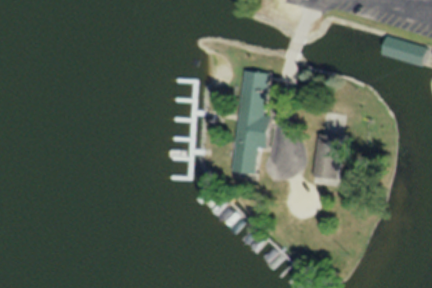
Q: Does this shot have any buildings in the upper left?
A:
No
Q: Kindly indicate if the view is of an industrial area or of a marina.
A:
marina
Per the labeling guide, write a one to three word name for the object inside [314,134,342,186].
house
